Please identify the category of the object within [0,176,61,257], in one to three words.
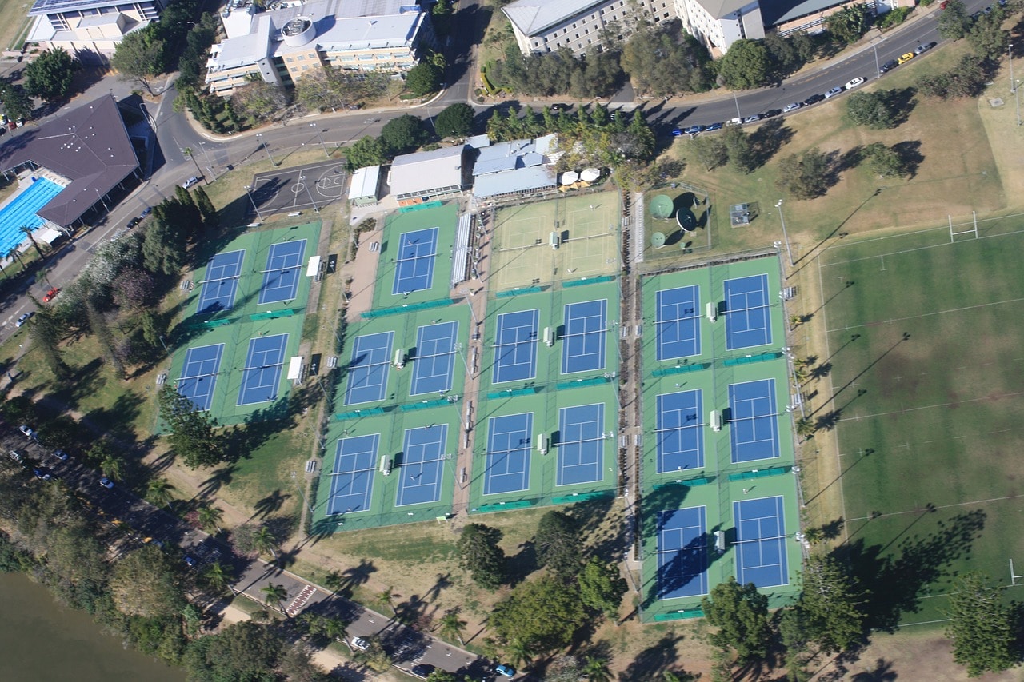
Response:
swimming pool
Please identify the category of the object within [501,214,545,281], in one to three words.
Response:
tennis court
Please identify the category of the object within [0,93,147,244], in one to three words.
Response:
building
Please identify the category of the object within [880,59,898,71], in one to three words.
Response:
vehicle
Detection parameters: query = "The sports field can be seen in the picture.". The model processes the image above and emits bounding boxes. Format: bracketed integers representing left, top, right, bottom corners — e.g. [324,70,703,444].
[819,218,1024,645]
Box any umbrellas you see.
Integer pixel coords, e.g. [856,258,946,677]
[580,168,601,183]
[561,172,580,185]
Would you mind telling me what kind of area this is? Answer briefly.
sports ground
